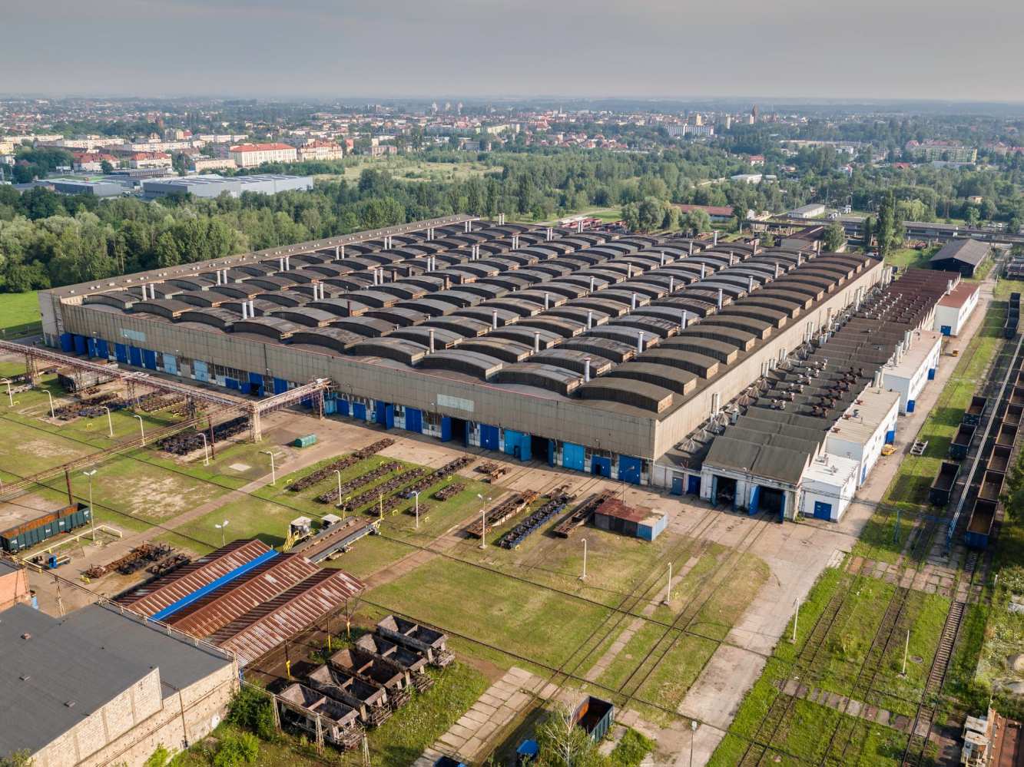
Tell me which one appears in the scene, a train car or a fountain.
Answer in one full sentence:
It is a train car that can be seen here.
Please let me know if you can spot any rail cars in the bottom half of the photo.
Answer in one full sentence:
Yes, the scene does show a rail car in the bottom half of the photo.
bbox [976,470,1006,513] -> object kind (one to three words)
rail car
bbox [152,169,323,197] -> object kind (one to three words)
building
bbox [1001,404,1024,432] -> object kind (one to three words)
rail car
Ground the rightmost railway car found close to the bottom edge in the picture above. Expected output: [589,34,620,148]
[548,693,615,755]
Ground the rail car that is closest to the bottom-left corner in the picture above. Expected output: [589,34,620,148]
[0,503,98,559]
